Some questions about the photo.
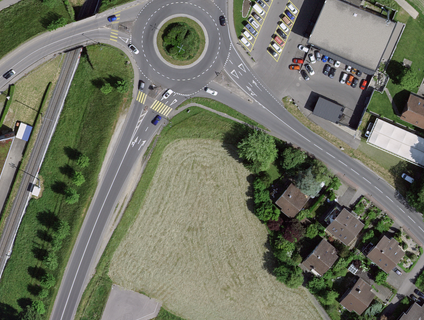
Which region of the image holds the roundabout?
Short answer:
top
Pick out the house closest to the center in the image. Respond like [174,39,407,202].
[276,184,309,217]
